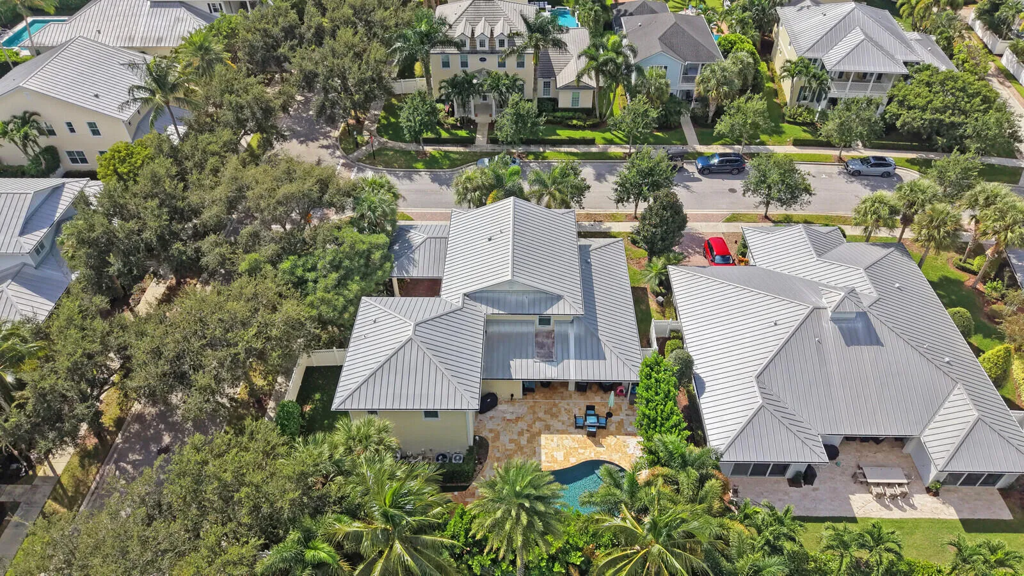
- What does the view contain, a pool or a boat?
pool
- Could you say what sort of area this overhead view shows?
residential area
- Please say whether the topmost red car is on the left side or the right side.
right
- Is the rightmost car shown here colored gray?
Yes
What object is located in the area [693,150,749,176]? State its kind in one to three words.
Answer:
car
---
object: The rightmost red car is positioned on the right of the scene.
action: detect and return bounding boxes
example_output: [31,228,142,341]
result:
[700,232,736,266]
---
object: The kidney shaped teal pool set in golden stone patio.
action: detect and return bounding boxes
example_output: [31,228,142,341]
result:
[540,453,638,510]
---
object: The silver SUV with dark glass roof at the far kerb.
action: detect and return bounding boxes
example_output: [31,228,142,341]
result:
[841,154,900,180]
